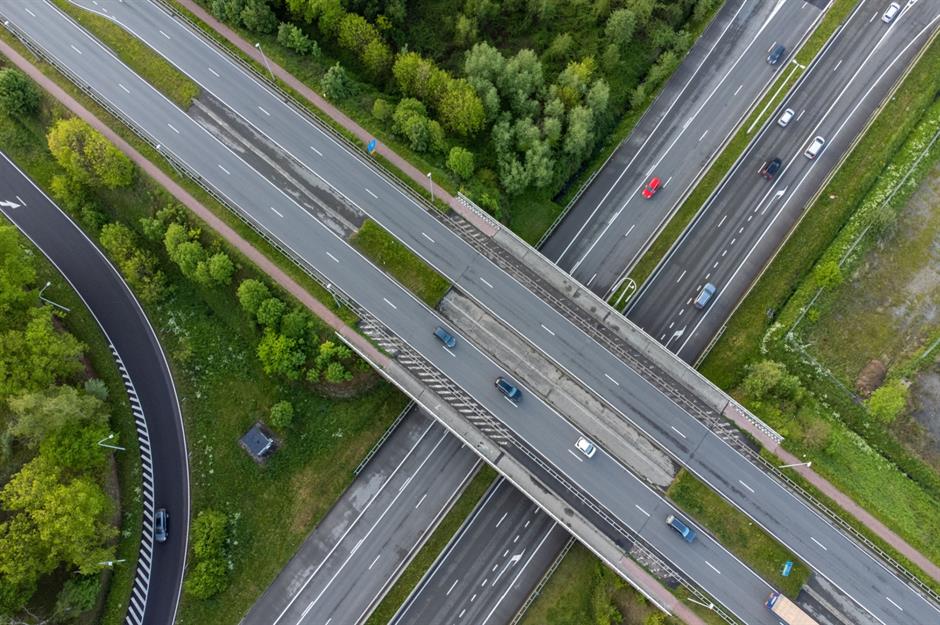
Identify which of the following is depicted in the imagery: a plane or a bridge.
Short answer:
bridge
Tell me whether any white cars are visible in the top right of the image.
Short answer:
Yes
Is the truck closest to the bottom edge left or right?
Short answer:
right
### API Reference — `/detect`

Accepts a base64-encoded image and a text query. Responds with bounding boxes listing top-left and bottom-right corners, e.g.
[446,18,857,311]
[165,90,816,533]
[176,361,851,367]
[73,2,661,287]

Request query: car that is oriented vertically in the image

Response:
[151,508,172,542]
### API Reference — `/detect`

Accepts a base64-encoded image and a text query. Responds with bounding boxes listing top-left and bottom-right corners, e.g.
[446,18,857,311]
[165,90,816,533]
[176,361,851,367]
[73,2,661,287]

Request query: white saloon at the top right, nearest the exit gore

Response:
[880,3,900,24]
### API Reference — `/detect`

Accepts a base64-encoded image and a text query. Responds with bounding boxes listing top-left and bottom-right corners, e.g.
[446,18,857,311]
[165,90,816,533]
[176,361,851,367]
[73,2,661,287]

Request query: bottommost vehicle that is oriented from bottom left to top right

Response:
[692,283,717,310]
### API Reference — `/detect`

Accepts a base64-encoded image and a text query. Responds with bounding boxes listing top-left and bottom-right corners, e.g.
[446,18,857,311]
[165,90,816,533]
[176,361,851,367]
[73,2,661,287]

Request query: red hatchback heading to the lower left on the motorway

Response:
[642,176,663,200]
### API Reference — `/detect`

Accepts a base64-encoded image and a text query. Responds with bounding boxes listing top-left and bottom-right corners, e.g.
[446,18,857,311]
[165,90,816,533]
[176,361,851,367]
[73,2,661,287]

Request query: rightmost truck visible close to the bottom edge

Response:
[758,589,822,625]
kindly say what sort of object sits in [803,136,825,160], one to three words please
car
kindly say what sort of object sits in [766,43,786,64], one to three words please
car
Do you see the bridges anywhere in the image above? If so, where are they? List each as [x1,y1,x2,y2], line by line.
[334,192,785,616]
